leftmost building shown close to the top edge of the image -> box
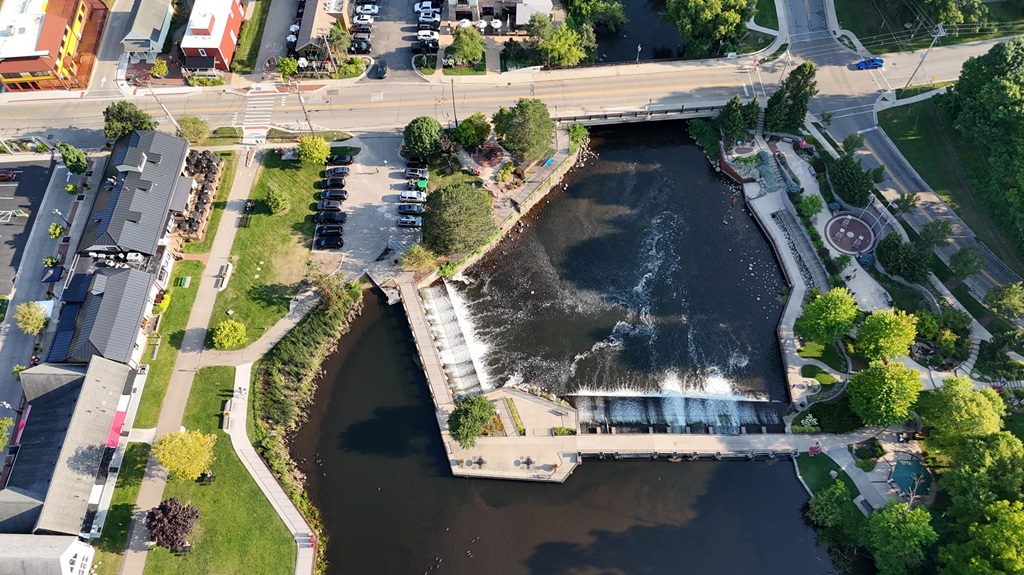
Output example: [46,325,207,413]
[0,0,88,96]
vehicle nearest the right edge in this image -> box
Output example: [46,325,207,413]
[858,56,886,69]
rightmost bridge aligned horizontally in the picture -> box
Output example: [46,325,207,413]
[546,51,764,125]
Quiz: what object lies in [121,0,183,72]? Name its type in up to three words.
house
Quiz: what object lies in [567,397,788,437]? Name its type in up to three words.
dam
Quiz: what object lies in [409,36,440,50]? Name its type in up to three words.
vehicle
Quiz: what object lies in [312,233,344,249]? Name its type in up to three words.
car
